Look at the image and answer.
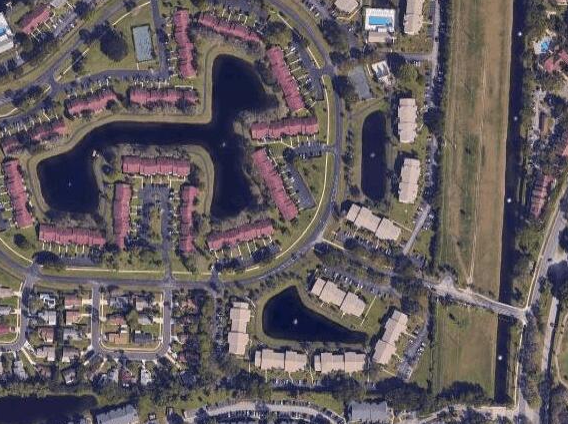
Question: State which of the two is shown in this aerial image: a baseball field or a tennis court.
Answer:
tennis court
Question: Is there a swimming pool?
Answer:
Yes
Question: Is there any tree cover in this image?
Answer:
Yes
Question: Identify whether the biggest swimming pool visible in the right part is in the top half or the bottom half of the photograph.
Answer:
top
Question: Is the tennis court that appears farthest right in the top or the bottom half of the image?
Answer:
top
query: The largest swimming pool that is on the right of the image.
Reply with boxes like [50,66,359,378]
[365,10,394,32]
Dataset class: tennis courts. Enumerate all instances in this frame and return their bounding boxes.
[133,25,150,64]
[345,65,374,102]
